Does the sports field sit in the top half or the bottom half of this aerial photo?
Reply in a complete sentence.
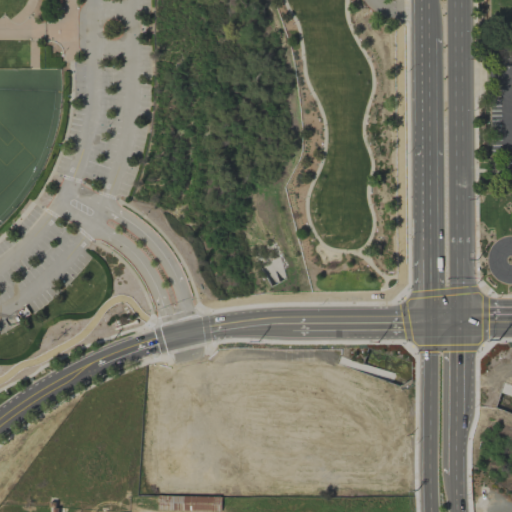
You can find the sports field in the top half.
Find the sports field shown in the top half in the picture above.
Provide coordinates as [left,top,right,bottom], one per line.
[0,69,63,227]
